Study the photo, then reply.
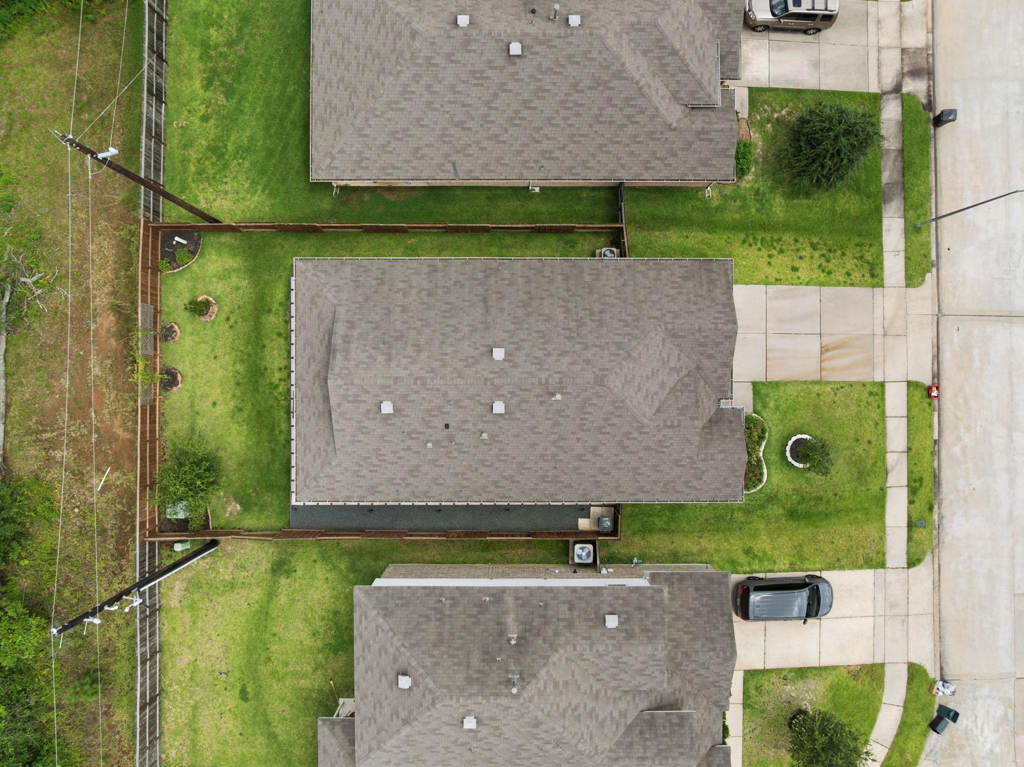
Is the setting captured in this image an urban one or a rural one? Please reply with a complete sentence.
From above, the setting appears urban.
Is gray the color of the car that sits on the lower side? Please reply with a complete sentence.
Yes, gray is the color of the car that sits on the lower side.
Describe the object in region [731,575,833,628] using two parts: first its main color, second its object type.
gray car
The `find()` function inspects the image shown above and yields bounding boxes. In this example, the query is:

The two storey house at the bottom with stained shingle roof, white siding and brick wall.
[318,556,738,767]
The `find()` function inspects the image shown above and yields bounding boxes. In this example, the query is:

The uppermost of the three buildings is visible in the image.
[310,0,749,196]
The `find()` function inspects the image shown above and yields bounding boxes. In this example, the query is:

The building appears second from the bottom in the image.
[293,258,747,503]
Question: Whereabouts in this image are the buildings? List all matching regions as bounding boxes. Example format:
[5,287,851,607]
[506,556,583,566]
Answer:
[293,258,747,503]
[318,556,738,767]
[310,0,749,196]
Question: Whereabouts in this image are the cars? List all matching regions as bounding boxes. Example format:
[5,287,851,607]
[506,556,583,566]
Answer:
[731,575,833,628]
[746,0,841,32]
